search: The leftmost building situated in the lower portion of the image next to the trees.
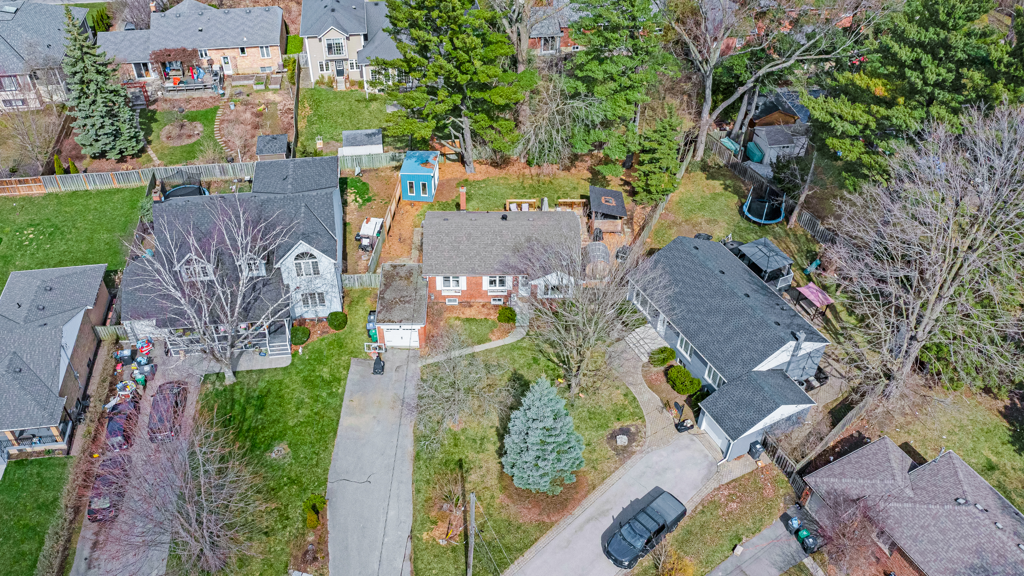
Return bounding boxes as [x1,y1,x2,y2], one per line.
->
[0,263,110,457]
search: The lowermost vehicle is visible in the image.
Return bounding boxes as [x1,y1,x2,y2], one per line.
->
[606,493,687,571]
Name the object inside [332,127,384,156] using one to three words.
shed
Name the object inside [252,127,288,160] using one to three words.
shed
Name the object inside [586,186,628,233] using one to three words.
building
